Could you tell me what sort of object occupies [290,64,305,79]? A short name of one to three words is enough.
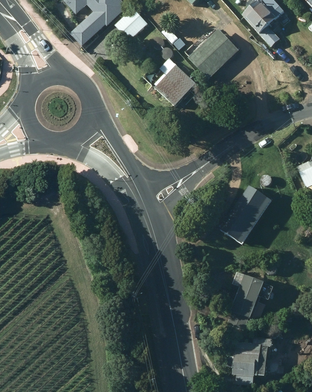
car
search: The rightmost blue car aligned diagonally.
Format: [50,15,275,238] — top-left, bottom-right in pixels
[275,48,292,62]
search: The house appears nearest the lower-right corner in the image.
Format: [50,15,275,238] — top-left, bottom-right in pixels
[232,338,272,383]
